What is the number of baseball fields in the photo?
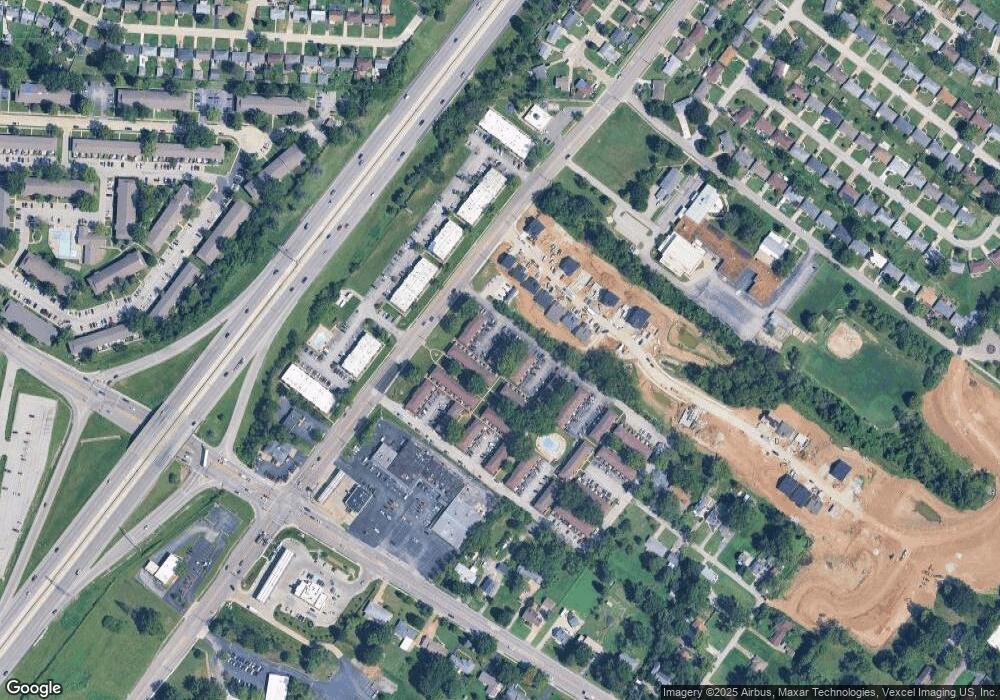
1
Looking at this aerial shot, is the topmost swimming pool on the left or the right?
left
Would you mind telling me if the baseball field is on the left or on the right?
right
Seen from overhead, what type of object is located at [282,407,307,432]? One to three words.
building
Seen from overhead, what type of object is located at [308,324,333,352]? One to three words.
swimming pool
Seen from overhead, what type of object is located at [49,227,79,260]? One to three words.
swimming pool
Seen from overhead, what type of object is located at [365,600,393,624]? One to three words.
house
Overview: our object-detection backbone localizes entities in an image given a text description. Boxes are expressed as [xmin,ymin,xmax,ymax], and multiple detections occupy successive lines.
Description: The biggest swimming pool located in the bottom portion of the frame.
[536,433,566,462]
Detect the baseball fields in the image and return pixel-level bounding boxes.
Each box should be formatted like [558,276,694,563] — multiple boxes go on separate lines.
[805,309,925,416]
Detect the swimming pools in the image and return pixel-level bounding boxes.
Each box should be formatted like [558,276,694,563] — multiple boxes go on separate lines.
[308,324,333,352]
[536,433,566,462]
[49,227,79,260]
